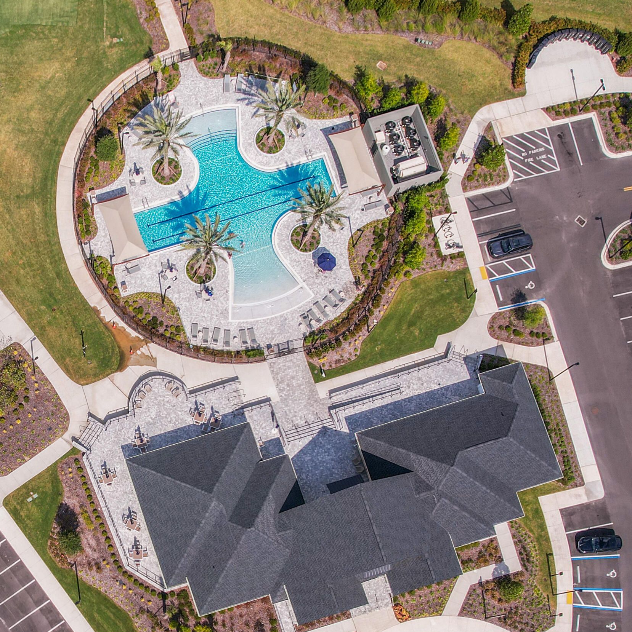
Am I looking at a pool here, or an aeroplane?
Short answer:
pool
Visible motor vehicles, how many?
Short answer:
2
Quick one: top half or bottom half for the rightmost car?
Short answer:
bottom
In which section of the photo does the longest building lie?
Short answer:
bottom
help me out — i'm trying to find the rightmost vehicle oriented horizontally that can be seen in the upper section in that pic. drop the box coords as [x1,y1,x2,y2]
[487,231,534,257]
